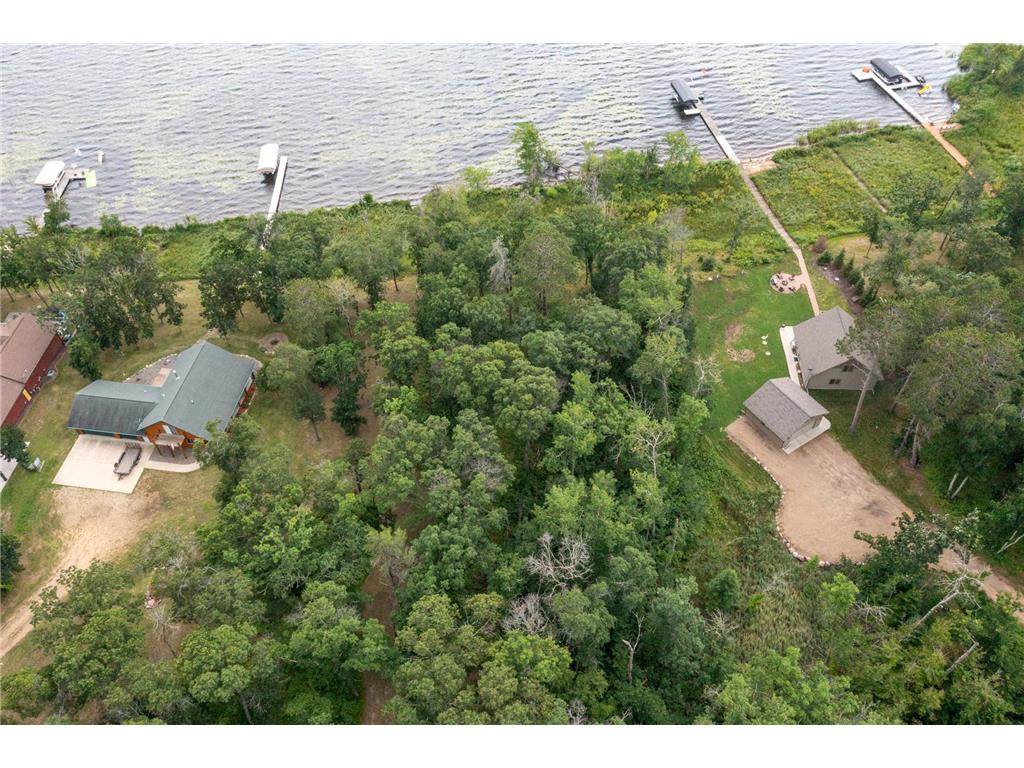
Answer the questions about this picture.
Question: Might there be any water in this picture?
Yes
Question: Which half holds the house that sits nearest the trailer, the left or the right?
left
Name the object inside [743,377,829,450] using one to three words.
building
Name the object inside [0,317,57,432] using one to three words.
house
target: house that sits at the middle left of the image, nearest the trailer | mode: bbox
[64,342,258,458]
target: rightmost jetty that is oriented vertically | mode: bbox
[260,155,288,243]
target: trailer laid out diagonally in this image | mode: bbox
[113,440,142,483]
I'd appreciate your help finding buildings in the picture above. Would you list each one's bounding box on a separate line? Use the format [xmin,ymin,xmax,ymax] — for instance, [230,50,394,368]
[0,317,57,432]
[791,308,891,393]
[743,377,829,450]
[64,342,258,458]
